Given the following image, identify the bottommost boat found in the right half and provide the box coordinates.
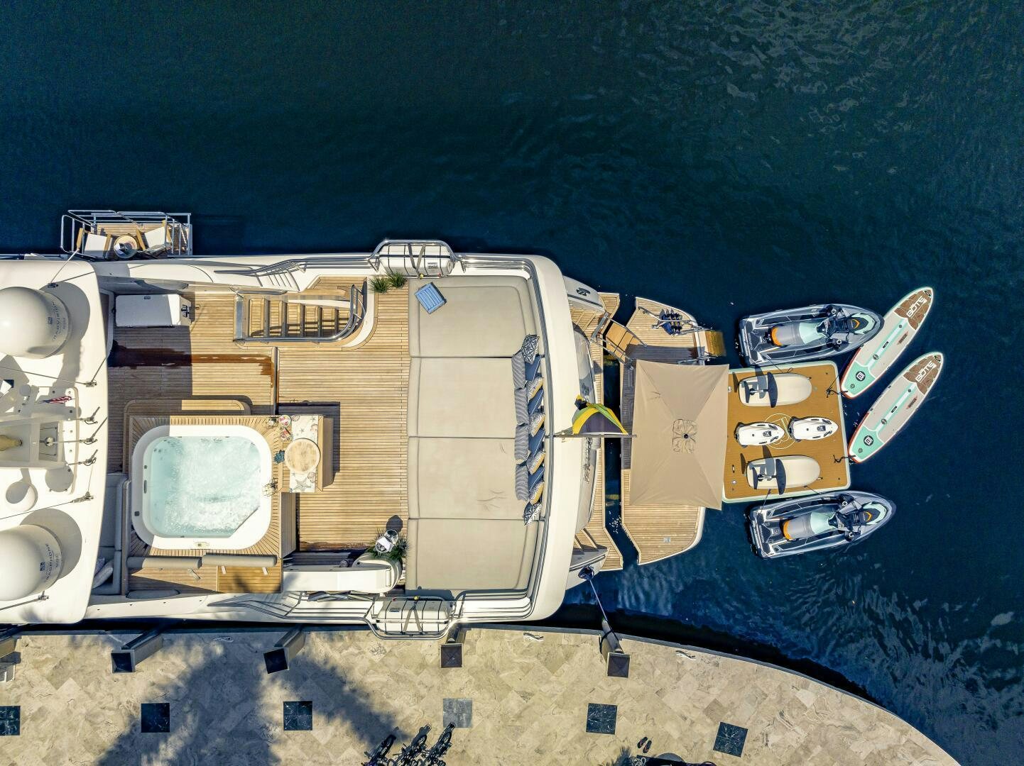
[742,492,900,555]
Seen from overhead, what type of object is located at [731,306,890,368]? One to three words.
boat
